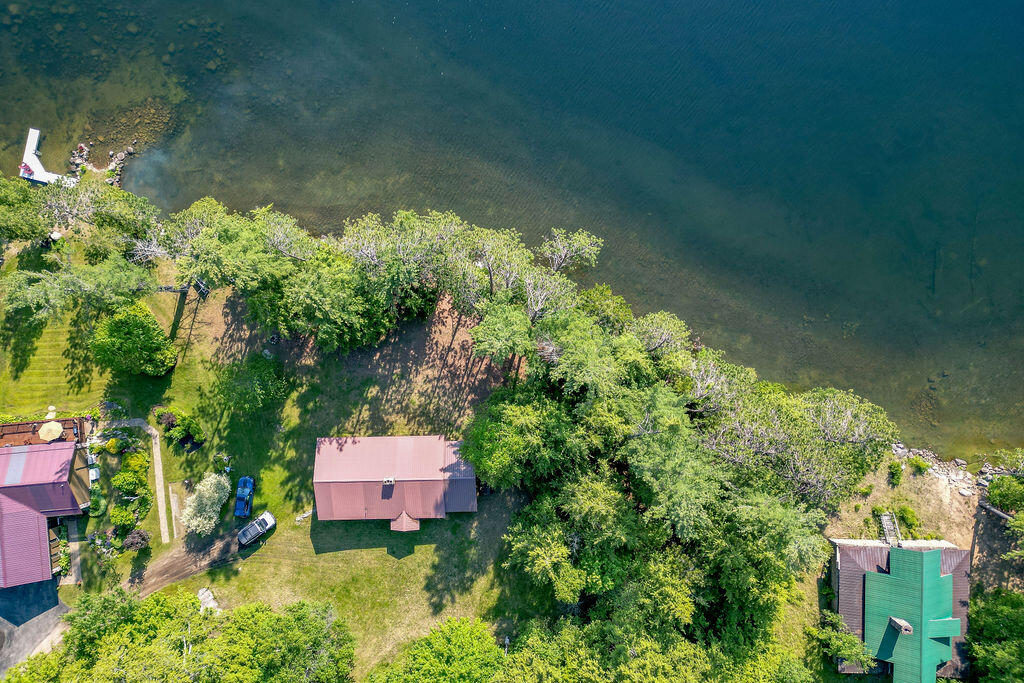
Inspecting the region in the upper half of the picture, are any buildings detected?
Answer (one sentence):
No, there's no building to be seen in the upper half of the picture.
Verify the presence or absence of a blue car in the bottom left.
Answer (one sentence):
Yes, a blue car appears in the bottom left.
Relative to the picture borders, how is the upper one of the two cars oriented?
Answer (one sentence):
In this picture, the upper one of the two cars is oriented up and down.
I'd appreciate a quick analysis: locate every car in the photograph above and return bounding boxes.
[237,512,278,548]
[234,476,256,518]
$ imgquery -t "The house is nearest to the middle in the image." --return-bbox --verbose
[312,435,477,531]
